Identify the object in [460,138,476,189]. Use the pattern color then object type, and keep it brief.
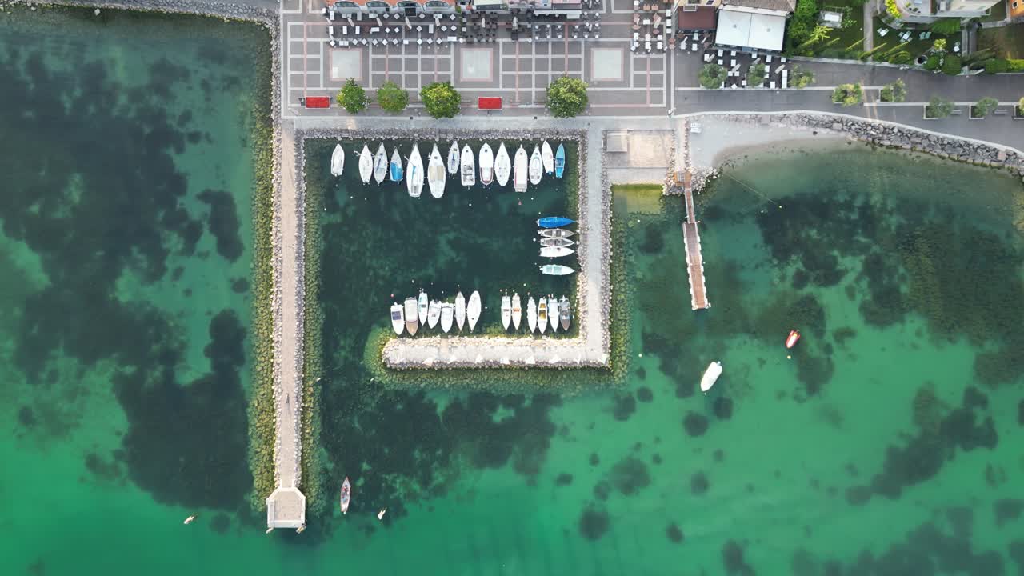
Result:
white boat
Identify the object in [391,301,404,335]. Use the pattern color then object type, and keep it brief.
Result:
white boat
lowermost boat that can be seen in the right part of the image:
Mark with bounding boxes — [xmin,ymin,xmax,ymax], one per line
[702,361,721,391]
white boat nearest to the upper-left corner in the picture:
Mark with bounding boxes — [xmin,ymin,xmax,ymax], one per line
[331,140,345,178]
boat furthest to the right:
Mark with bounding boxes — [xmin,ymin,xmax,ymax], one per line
[786,330,801,348]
